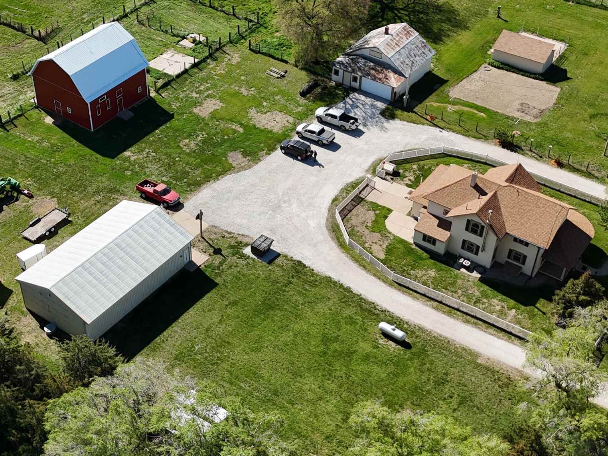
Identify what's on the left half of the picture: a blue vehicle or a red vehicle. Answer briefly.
red vehicle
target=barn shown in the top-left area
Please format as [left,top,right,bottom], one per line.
[26,20,152,130]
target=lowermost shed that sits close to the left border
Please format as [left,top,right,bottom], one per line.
[17,203,195,334]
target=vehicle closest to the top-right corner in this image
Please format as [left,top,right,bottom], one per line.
[312,108,360,132]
